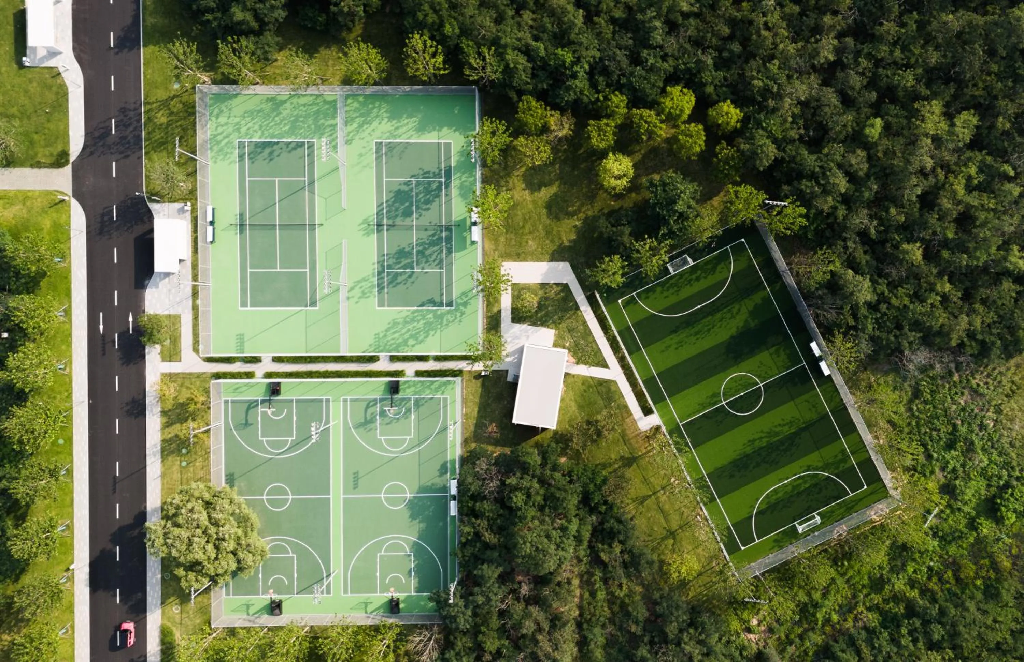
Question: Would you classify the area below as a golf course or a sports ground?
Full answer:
This image shows a sports ground.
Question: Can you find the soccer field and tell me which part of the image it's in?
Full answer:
The soccer field sits in the right section of the image.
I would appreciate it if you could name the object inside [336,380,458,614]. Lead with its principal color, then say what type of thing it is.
green basketball court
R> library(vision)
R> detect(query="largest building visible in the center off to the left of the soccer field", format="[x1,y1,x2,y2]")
[513,344,568,429]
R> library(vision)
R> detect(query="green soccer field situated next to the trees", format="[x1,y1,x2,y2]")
[602,217,891,568]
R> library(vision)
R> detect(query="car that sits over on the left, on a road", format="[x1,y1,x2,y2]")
[117,623,134,651]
